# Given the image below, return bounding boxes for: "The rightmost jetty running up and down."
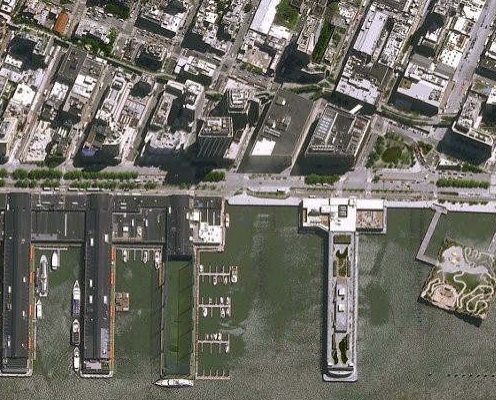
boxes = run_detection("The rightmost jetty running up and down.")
[298,199,387,383]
